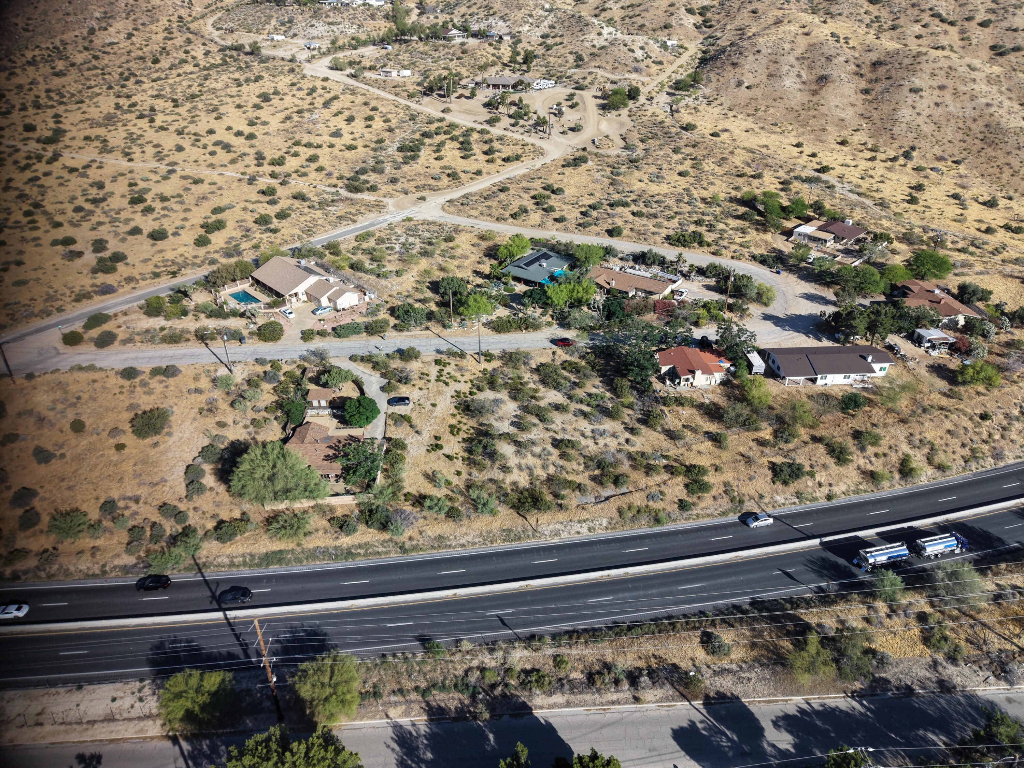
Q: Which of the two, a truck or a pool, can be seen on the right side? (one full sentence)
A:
There is a truck on the right side.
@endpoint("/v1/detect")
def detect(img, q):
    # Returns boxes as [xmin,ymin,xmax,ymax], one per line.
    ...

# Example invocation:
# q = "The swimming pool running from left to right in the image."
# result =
[209,282,285,309]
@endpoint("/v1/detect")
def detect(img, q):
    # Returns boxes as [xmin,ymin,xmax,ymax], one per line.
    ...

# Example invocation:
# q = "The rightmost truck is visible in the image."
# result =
[908,526,971,558]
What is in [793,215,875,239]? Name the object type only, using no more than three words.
house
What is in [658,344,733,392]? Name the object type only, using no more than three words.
house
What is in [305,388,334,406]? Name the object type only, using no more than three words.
shed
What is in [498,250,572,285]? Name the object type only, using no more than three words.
building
